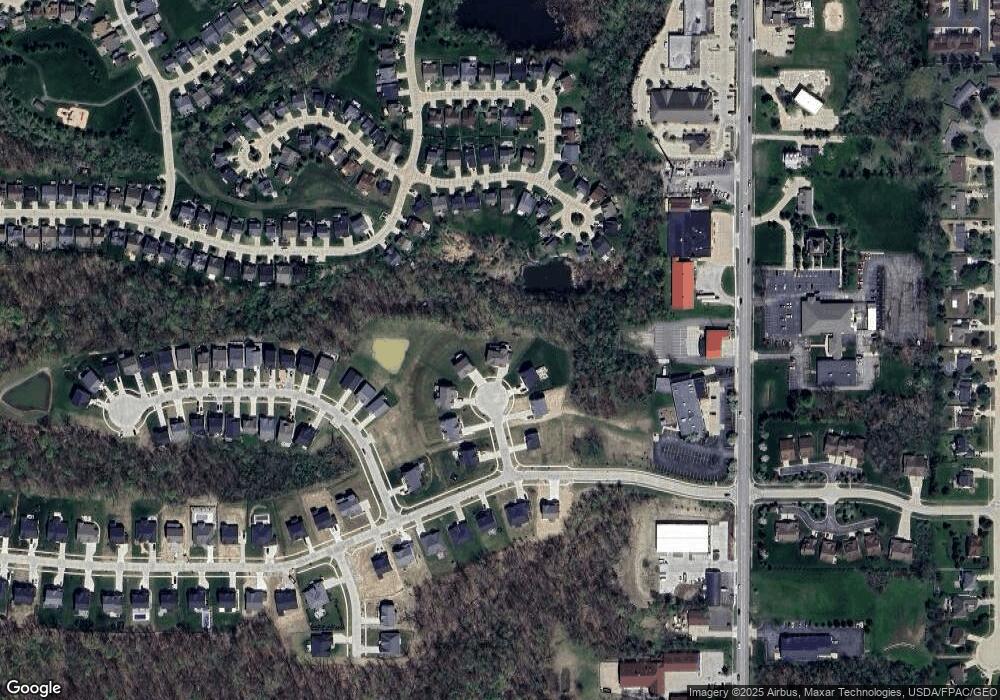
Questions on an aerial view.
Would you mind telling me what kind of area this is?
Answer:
residential area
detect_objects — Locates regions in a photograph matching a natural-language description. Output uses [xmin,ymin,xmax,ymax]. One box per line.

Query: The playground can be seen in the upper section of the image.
[57,106,89,128]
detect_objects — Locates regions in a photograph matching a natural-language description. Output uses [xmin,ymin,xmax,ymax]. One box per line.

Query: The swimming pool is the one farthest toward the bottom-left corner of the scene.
[134,608,148,621]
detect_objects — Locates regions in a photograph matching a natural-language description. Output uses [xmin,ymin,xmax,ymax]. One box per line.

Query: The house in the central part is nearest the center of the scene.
[486,343,510,367]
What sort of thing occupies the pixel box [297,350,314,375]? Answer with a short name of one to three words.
house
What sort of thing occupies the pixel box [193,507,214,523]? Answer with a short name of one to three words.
swimming pool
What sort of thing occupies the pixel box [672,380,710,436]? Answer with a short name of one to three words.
building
